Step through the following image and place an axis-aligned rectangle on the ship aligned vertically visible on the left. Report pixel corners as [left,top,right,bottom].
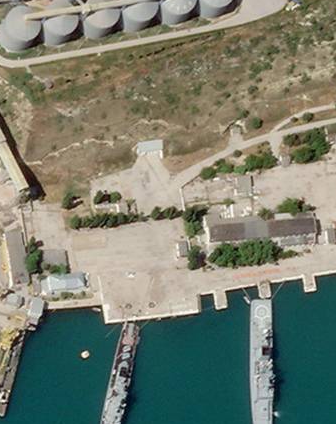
[104,322,138,424]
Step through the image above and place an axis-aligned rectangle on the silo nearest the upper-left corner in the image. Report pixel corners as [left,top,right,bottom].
[0,5,42,55]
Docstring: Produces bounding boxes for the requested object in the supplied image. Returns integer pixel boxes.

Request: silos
[113,0,158,35]
[191,0,233,22]
[36,0,80,48]
[75,0,120,42]
[152,0,197,28]
[0,5,42,55]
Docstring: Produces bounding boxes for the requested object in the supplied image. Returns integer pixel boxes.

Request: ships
[250,298,273,424]
[104,322,138,424]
